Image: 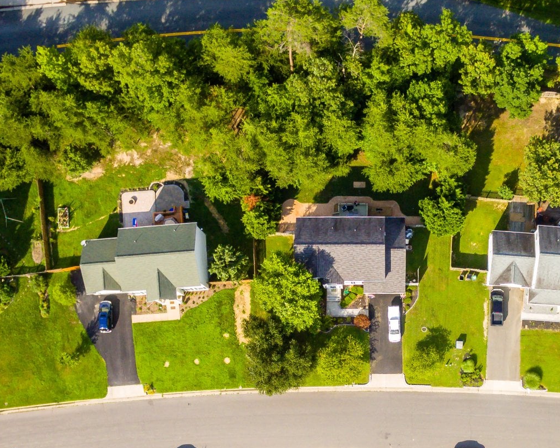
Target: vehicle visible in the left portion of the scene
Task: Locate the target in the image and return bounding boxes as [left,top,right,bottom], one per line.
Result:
[94,300,112,333]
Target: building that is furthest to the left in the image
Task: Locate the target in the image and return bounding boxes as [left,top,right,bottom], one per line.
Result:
[78,222,208,304]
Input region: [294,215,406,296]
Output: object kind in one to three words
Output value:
house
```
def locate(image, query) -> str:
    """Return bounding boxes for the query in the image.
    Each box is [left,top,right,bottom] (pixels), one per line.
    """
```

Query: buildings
[487,225,560,307]
[78,222,208,304]
[294,215,406,296]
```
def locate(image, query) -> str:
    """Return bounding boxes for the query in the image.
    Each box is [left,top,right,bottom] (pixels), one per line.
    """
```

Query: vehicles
[491,288,504,326]
[94,300,112,333]
[387,303,401,342]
